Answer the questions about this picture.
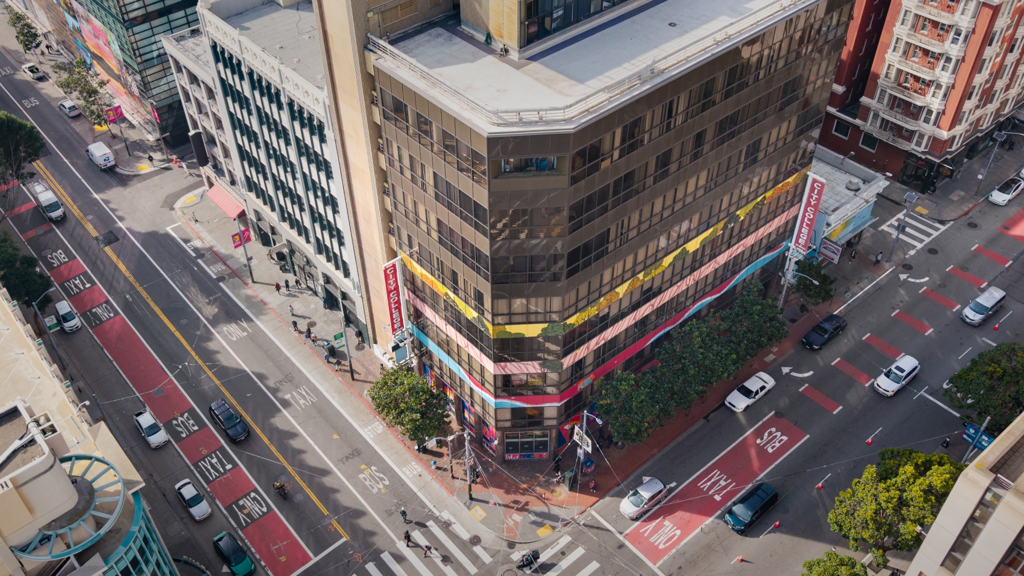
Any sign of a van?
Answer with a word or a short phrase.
Yes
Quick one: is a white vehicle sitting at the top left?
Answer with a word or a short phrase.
Yes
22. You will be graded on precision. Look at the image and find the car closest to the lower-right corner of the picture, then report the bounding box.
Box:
[875,356,923,397]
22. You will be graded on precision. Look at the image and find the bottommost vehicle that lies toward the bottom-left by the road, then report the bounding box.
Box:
[211,528,261,576]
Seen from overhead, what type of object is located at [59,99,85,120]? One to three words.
car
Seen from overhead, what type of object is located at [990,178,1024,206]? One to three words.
car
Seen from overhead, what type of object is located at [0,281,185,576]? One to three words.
building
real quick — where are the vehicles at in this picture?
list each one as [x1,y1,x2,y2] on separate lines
[276,482,290,500]
[726,483,784,536]
[211,528,261,576]
[26,172,68,220]
[963,286,1007,325]
[172,477,218,527]
[804,314,853,354]
[523,544,540,576]
[52,301,85,334]
[59,99,85,120]
[208,400,253,445]
[130,407,174,453]
[619,475,669,520]
[990,178,1024,206]
[875,356,923,397]
[727,371,780,415]
[81,137,119,173]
